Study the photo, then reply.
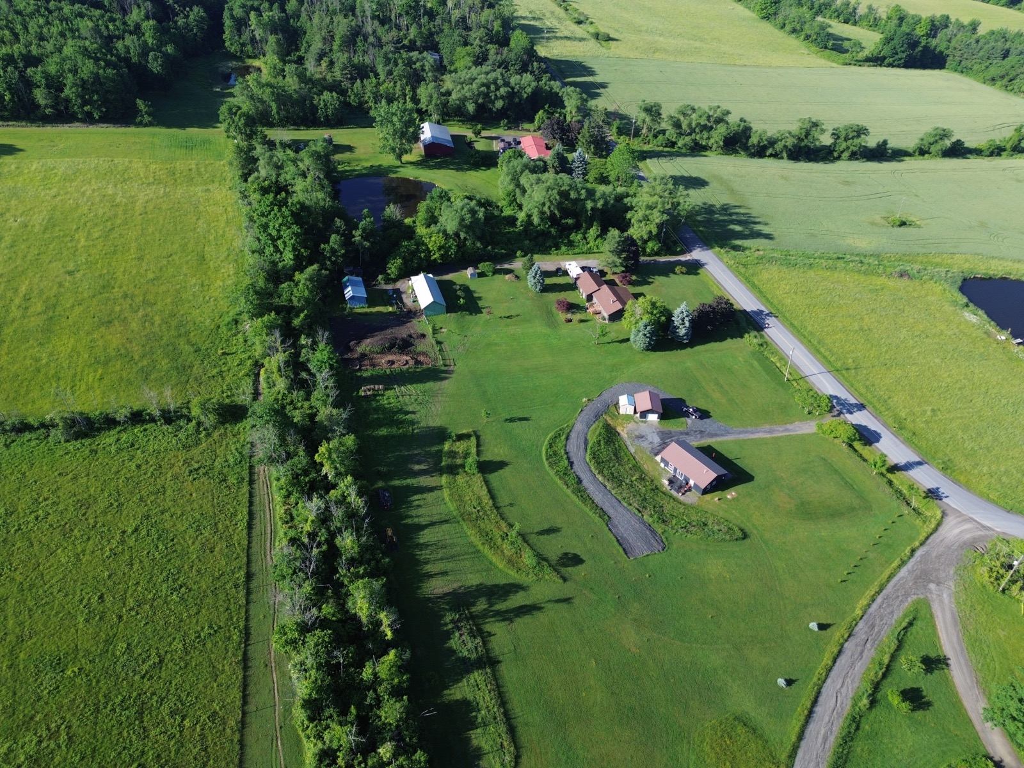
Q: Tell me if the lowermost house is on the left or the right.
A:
right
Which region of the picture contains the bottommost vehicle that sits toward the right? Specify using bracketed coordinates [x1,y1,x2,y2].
[681,408,706,421]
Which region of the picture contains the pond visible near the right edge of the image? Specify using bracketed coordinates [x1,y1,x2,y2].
[959,277,1024,343]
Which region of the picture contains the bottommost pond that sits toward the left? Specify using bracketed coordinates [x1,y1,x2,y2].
[339,176,436,228]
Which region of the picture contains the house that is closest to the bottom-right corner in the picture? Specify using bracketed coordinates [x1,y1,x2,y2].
[659,440,731,495]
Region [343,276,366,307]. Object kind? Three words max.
shed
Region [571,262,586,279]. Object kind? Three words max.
vehicle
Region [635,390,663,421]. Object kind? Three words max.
building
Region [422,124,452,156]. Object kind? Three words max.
barn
